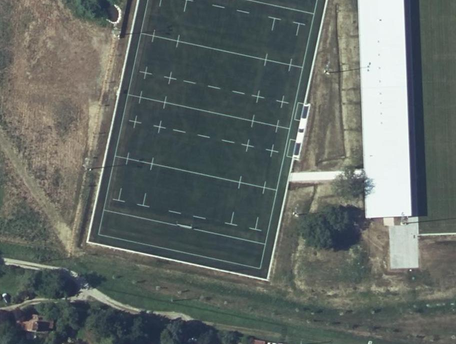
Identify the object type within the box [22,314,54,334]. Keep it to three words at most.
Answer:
house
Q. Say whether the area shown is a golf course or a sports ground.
sports ground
